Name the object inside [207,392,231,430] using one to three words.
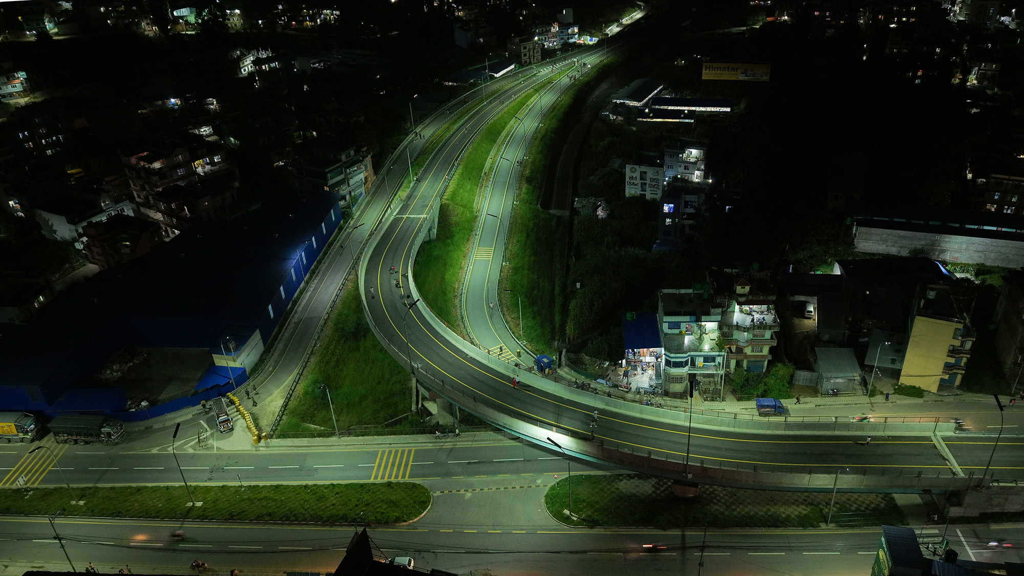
truck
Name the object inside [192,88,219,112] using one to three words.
house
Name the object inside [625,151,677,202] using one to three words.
building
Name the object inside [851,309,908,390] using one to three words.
shed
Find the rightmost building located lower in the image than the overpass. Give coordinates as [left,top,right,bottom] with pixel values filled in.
[863,525,929,576]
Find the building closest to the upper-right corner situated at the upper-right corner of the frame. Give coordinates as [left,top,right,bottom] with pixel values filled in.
[973,0,1015,28]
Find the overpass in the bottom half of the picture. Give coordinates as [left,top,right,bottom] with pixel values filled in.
[360,202,1017,506]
